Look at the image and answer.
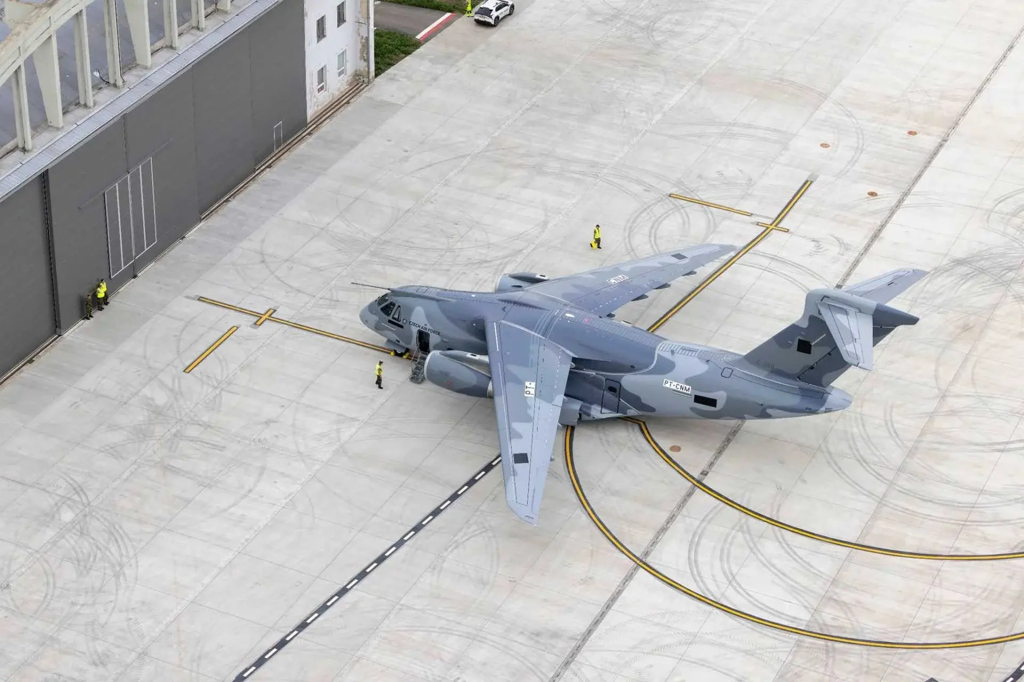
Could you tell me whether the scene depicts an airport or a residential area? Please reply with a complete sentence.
The picture captures an airport.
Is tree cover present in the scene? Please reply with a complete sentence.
No, no tree cover is visible.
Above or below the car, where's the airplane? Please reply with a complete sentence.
Looking at the photo, you'll find the airplane below the car.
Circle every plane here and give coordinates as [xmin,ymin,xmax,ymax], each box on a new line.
[349,243,927,526]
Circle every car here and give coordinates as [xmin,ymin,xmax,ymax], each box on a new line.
[474,0,517,24]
